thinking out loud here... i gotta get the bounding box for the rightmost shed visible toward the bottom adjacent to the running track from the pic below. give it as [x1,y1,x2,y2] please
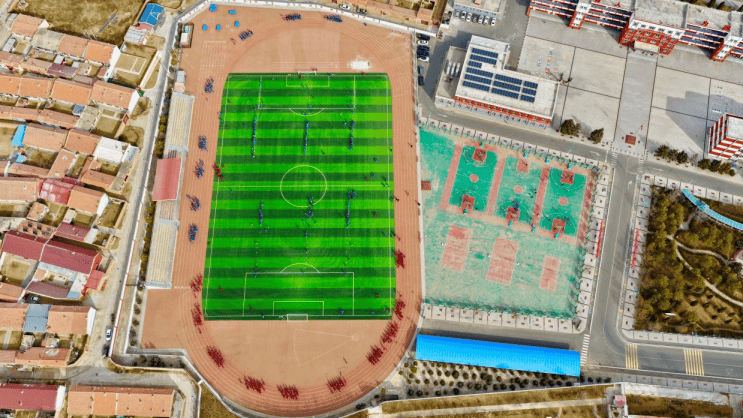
[414,334,580,380]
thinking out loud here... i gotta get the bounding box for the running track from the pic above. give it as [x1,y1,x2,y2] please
[173,9,424,418]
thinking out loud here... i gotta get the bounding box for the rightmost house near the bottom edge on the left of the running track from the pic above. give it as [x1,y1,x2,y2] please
[115,385,178,417]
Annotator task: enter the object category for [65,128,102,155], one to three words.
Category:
house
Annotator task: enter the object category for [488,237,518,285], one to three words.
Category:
sports court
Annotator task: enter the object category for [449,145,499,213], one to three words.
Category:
basketball court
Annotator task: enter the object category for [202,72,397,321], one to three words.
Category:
soccer field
